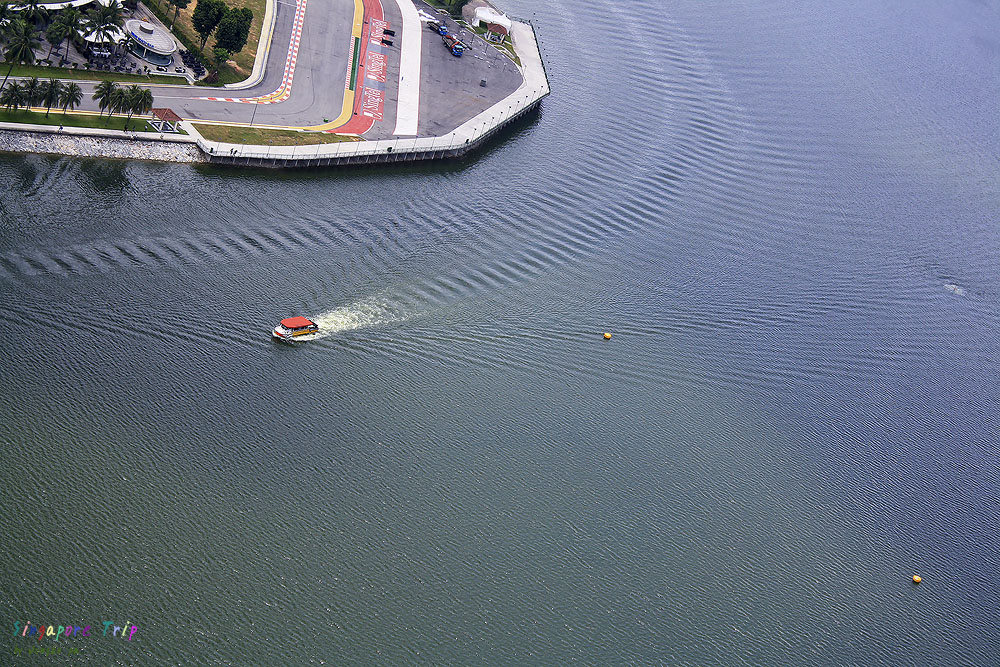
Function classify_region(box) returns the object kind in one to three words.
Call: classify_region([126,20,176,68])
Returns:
building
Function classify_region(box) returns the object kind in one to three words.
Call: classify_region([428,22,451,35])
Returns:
vehicle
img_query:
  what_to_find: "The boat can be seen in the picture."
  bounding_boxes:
[274,313,322,336]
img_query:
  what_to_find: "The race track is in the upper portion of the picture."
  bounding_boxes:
[0,0,524,142]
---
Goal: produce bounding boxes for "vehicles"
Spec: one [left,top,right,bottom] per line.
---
[428,22,451,35]
[443,35,470,57]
